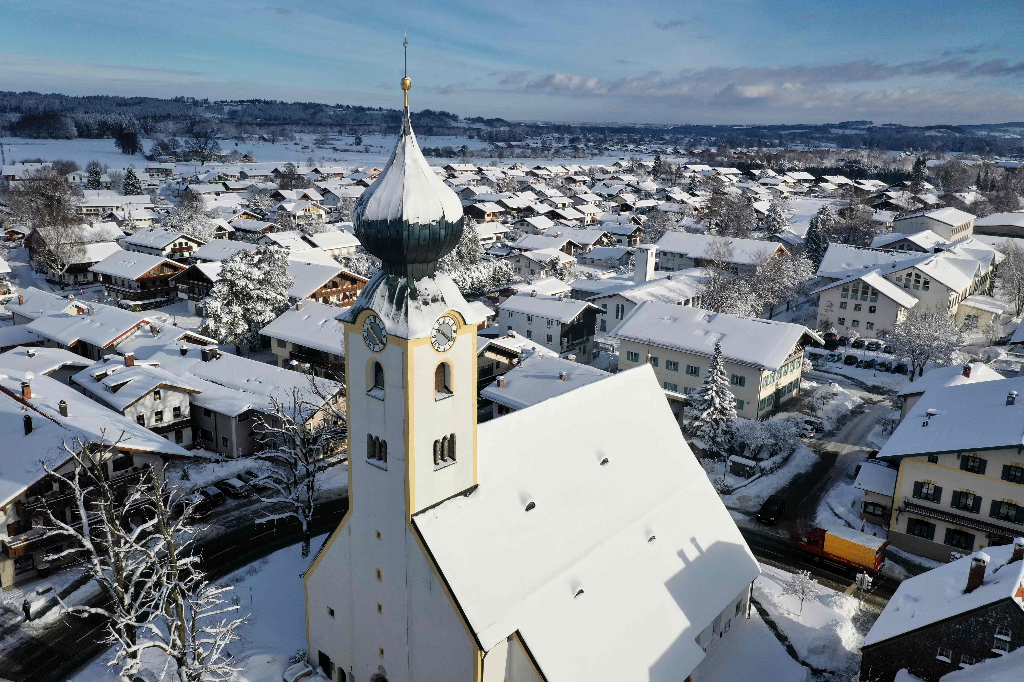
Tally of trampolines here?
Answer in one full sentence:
Not a single trampoline can be seen.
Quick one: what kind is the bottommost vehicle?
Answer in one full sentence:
The bottommost vehicle in the image is a truck.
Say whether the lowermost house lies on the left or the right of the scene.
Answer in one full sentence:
The lowermost house is on the right side of the image.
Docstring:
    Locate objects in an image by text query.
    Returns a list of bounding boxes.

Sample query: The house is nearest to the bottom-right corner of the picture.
[859,525,1024,682]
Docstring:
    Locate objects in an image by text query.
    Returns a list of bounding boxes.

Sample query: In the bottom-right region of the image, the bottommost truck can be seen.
[796,522,898,572]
